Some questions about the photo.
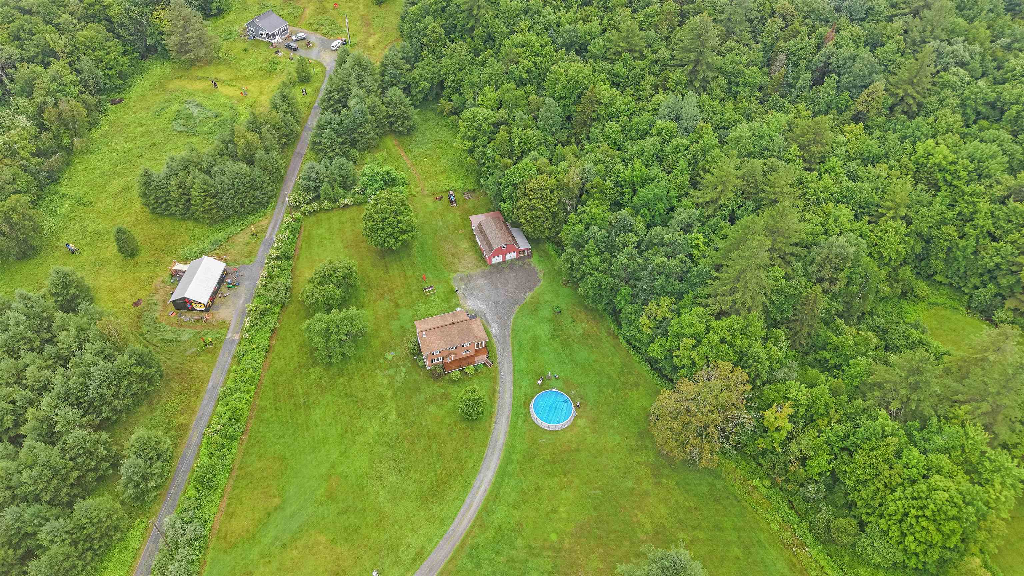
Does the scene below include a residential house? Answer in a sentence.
Yes, the picture does show a residential house.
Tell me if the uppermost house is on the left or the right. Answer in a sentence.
The uppermost house sits on the left side.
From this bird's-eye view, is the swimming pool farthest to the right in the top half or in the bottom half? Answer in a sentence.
You can find the swimming pool farthest to the right in the bottom half.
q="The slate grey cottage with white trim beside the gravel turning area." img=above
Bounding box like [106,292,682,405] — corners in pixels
[245,10,289,43]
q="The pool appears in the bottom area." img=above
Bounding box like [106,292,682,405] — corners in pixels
[533,389,574,428]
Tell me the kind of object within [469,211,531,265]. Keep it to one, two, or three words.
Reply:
barn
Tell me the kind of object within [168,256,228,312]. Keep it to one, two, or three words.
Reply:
building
